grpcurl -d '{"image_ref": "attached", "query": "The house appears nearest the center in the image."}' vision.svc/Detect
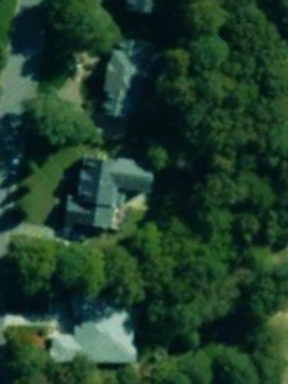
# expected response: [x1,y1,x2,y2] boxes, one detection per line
[63,155,155,231]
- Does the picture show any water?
No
